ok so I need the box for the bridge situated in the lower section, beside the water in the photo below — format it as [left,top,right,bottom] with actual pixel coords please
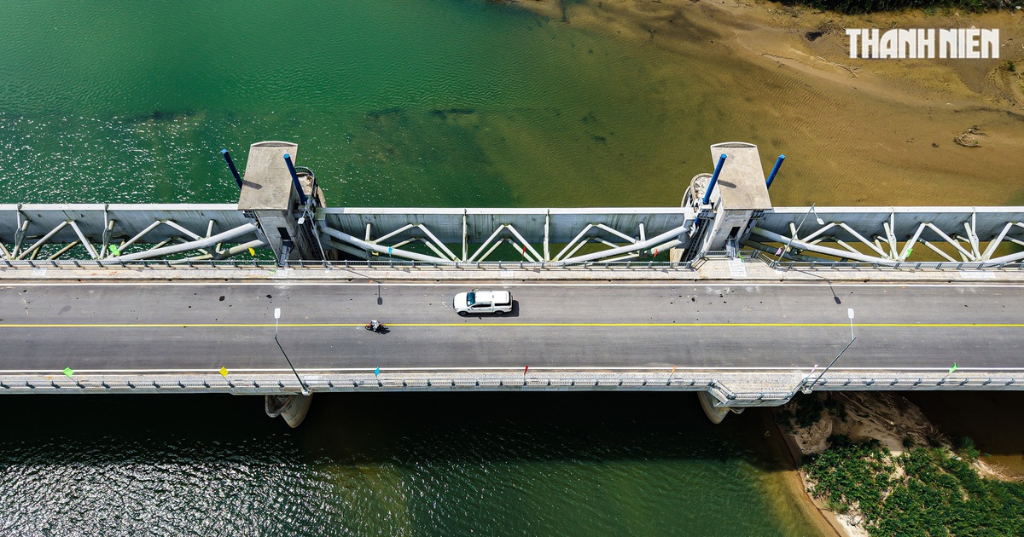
[0,253,1024,407]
